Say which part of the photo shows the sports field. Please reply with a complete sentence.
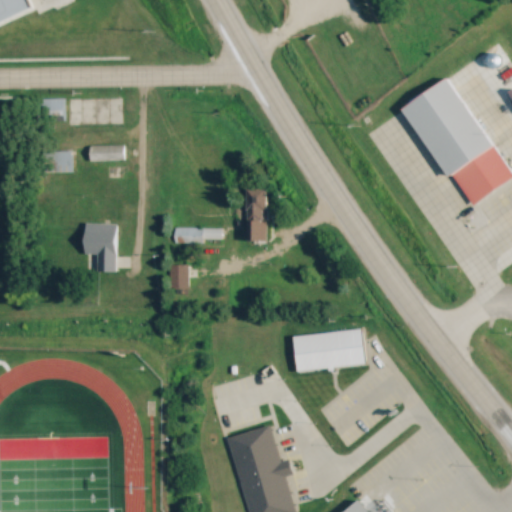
The sports field is in the bottom left part of the image.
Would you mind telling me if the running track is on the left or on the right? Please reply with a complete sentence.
The running track appears in the left half of the scene.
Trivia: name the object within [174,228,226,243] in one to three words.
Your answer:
house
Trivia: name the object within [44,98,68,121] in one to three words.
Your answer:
shed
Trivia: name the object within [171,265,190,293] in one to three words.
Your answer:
house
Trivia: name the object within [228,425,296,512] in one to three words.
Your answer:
building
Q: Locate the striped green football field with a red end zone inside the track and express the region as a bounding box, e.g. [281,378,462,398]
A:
[0,380,124,512]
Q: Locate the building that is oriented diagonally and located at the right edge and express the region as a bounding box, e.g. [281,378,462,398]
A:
[402,78,512,206]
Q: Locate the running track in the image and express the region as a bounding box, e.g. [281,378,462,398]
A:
[0,358,146,512]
